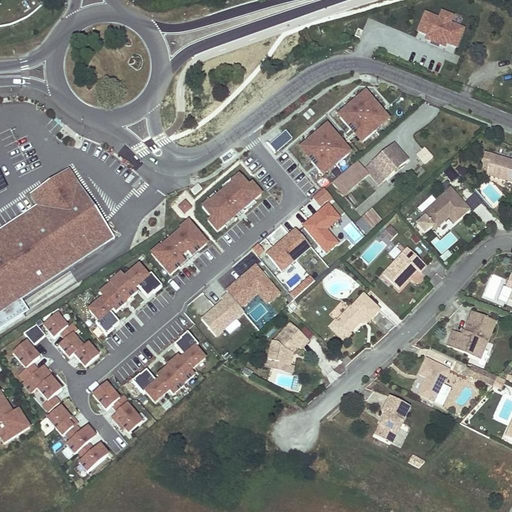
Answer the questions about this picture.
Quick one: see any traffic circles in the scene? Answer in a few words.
Yes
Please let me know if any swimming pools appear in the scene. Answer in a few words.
Yes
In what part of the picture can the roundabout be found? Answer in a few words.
top left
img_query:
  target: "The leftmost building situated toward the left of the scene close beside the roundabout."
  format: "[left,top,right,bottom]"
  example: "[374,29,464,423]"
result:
[0,166,114,312]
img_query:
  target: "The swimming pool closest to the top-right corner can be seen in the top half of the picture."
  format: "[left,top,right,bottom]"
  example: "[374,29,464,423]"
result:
[480,181,504,206]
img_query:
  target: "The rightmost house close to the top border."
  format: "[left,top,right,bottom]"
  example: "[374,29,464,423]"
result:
[416,9,466,48]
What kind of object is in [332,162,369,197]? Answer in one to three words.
shed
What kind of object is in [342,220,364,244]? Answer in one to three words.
swimming pool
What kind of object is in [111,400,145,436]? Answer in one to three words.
house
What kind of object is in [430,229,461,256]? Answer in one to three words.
swimming pool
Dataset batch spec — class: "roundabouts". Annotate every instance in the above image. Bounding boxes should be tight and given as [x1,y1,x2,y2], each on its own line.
[44,2,172,130]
